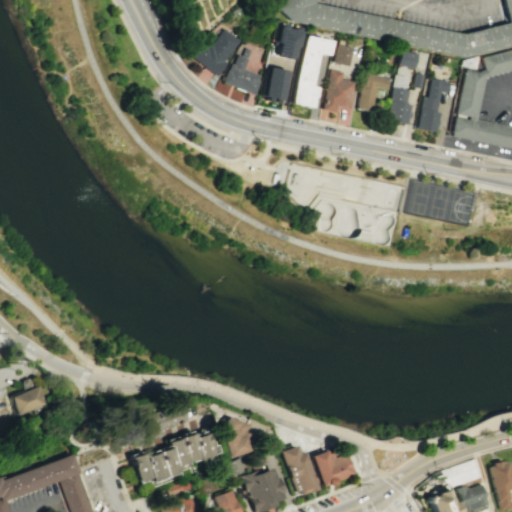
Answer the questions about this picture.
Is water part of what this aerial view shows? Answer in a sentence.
Yes, there's water in this view.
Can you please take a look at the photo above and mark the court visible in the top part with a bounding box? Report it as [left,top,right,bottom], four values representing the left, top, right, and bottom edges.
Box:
[404,178,475,224]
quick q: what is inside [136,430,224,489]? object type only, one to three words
building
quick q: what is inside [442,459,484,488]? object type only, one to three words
building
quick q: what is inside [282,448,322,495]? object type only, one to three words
house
